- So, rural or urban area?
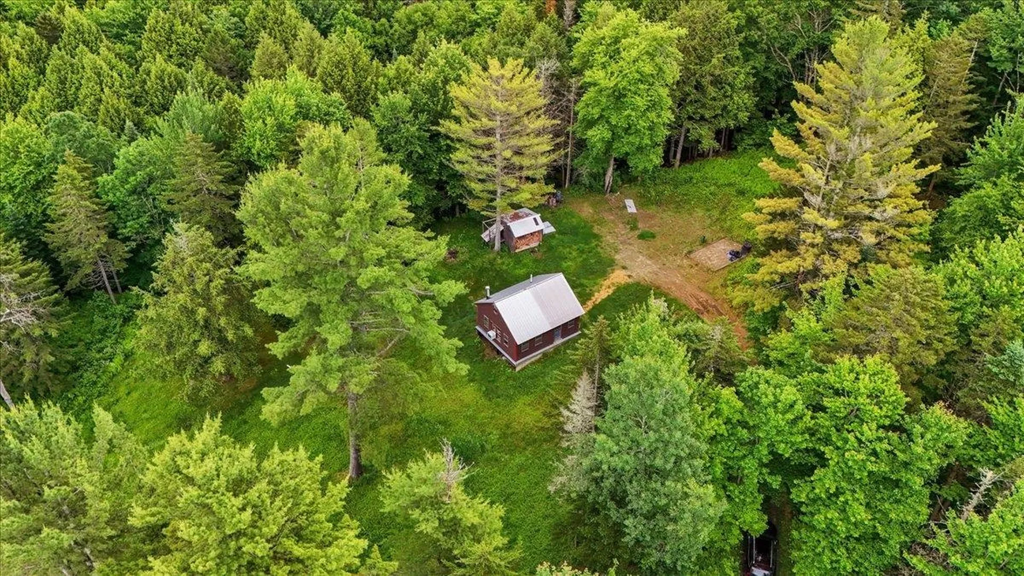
rural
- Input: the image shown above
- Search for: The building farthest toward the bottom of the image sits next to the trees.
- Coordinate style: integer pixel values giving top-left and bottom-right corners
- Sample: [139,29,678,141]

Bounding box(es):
[474,272,585,368]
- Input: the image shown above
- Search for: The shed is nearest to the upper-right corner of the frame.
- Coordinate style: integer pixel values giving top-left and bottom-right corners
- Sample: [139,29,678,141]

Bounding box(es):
[499,208,545,252]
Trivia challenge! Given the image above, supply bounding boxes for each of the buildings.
[499,208,545,252]
[474,272,585,368]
